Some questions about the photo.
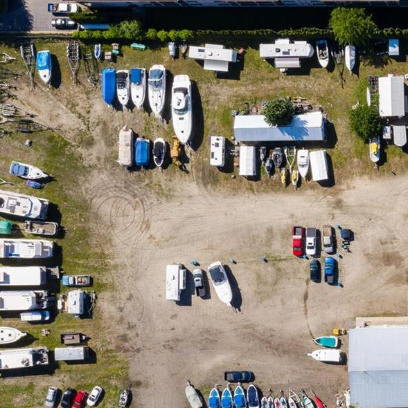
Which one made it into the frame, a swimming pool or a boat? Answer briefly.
boat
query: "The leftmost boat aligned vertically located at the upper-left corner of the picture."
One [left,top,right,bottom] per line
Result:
[37,50,53,84]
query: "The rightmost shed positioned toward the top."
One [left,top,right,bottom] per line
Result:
[379,76,406,116]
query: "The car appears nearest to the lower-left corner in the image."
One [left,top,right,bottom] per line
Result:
[45,385,60,408]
